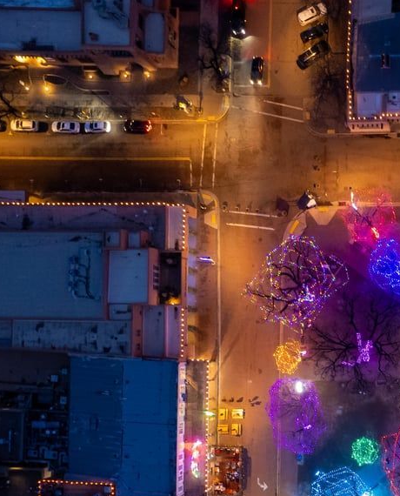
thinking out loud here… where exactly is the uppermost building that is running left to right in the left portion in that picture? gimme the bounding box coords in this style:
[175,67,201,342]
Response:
[0,0,196,82]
